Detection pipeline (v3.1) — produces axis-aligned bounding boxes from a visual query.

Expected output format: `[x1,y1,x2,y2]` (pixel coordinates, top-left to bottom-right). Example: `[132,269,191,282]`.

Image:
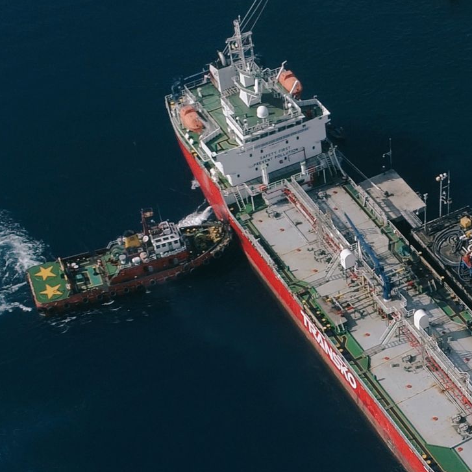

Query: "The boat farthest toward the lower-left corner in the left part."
[25,196,239,316]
